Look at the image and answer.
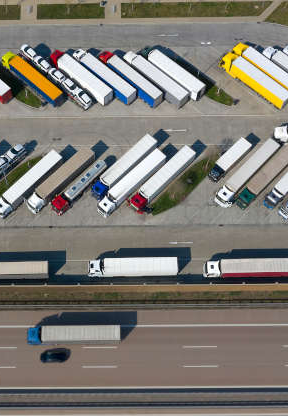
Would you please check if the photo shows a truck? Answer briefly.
Yes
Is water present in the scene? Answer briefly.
No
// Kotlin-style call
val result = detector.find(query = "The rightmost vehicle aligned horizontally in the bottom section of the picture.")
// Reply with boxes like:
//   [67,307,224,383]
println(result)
[200,259,288,278]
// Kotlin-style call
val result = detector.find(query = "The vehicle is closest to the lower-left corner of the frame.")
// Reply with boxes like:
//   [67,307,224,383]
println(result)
[42,350,68,363]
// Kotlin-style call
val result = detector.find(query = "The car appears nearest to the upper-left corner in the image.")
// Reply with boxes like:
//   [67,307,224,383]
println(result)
[19,45,37,61]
